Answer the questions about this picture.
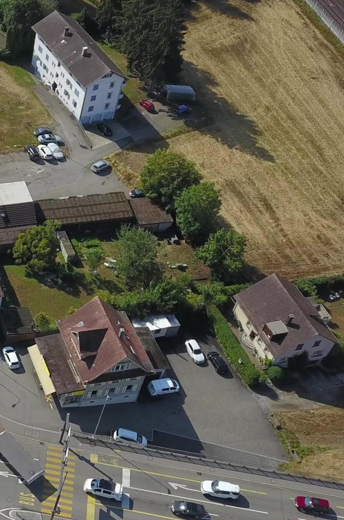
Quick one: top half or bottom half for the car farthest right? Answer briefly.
bottom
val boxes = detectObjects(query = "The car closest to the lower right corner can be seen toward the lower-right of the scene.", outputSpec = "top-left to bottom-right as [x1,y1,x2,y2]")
[293,494,332,516]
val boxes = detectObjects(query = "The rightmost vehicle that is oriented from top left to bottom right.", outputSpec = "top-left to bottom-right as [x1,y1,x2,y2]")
[205,350,228,377]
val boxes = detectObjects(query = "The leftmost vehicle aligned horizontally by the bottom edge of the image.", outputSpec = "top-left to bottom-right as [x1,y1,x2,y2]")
[83,477,126,501]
